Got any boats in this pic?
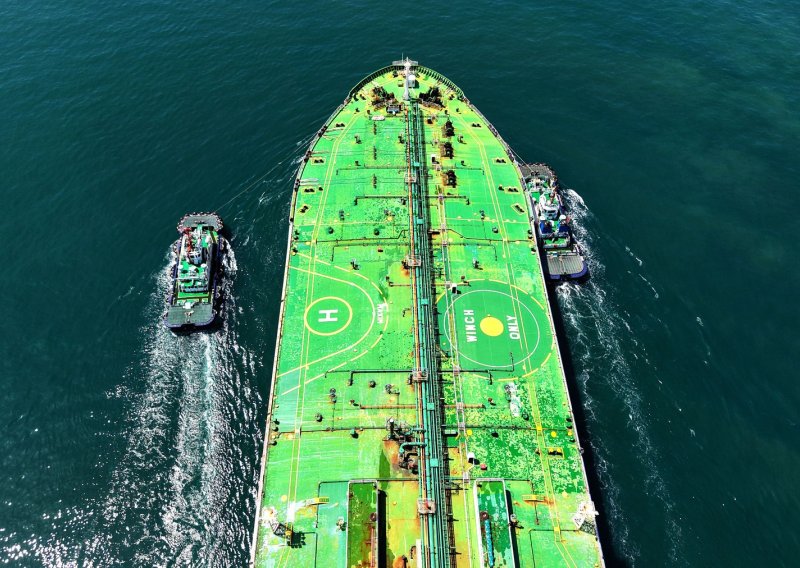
Yes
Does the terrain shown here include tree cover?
No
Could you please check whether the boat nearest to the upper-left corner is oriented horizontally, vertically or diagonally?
vertically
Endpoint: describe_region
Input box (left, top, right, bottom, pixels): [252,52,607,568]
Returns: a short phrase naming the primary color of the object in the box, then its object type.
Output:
green ship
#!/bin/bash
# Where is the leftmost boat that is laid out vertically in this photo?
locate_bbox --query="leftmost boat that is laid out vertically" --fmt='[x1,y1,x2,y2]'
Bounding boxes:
[162,209,223,328]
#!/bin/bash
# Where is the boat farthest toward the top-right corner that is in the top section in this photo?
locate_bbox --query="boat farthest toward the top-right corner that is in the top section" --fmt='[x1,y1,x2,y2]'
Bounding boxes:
[516,159,588,278]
